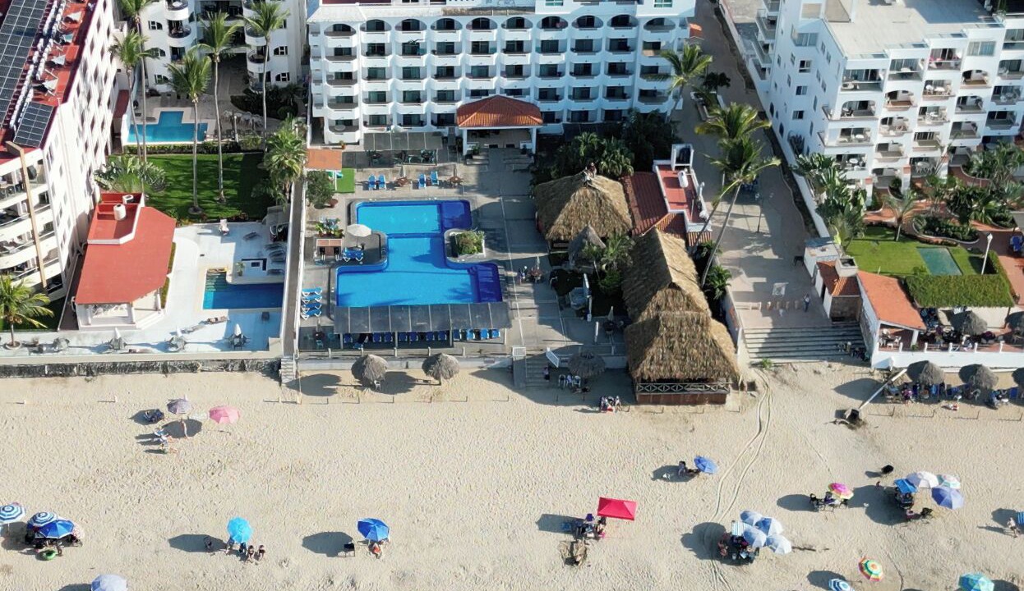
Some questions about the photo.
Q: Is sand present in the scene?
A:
Yes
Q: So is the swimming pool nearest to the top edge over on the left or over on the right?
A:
left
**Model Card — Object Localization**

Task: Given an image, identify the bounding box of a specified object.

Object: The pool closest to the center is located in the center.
[336,200,502,307]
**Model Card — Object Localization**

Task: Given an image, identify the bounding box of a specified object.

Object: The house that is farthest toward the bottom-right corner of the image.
[854,268,927,379]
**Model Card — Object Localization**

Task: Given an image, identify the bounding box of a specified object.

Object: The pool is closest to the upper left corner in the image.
[145,111,207,141]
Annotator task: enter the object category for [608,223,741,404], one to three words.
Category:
building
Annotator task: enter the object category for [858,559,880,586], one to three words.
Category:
umbrella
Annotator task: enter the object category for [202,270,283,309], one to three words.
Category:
swimming pool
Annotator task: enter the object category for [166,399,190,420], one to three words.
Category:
umbrella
